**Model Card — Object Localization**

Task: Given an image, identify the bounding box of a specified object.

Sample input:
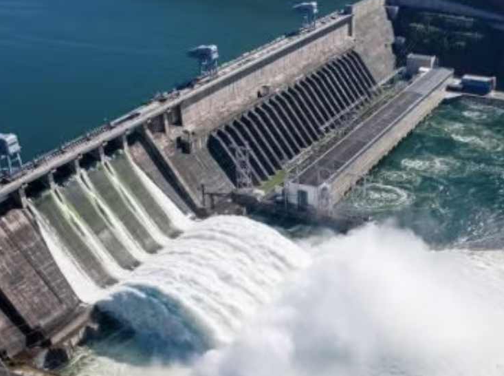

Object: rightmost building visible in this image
[463,73,494,96]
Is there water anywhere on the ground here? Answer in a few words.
Yes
